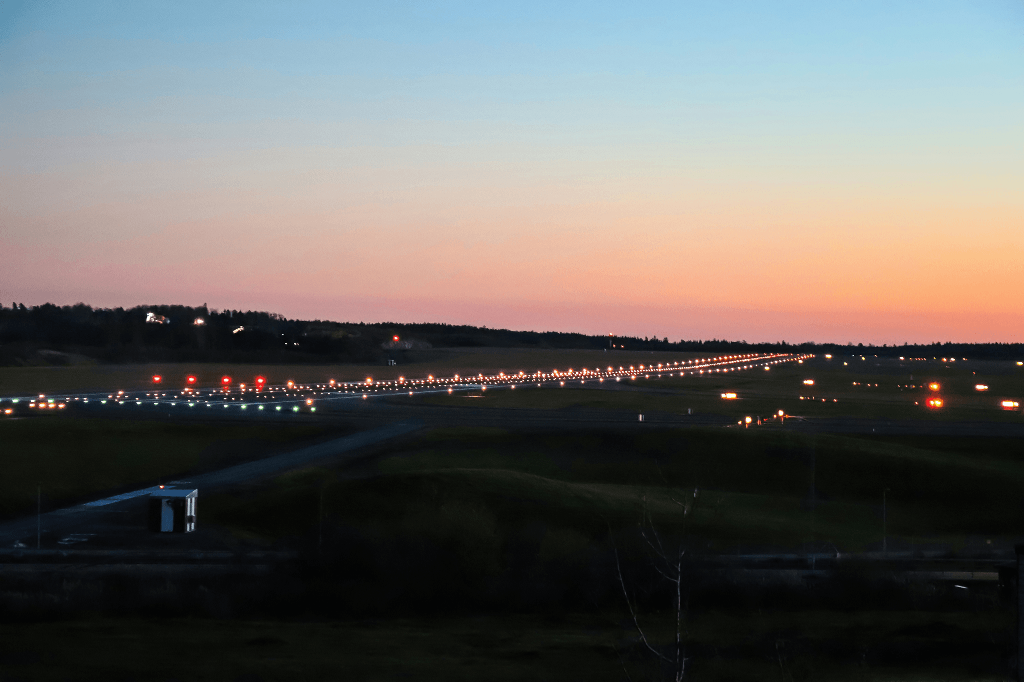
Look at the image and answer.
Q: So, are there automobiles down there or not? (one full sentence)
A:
No, the picture doesn't show any automobile.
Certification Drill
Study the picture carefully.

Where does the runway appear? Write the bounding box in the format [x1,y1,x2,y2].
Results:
[0,354,815,422]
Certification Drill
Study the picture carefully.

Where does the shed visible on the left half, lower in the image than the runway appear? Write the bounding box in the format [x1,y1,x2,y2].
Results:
[149,485,195,531]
